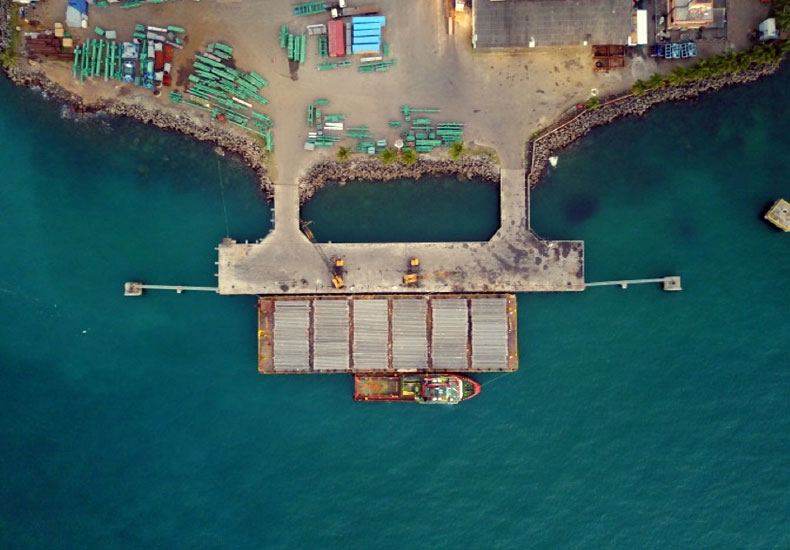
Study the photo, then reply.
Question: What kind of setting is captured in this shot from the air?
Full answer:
The area seen from above is a port.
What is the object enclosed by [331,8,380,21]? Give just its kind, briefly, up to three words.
vehicle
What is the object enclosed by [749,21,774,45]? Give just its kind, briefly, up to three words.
truck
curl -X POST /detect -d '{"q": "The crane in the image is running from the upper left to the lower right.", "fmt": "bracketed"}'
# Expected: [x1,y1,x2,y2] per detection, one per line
[302,223,349,291]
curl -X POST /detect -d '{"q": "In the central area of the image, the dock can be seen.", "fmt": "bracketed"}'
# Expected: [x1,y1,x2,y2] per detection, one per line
[214,168,585,294]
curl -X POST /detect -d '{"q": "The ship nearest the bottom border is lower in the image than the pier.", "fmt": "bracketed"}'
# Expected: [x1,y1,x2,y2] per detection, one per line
[354,373,481,405]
